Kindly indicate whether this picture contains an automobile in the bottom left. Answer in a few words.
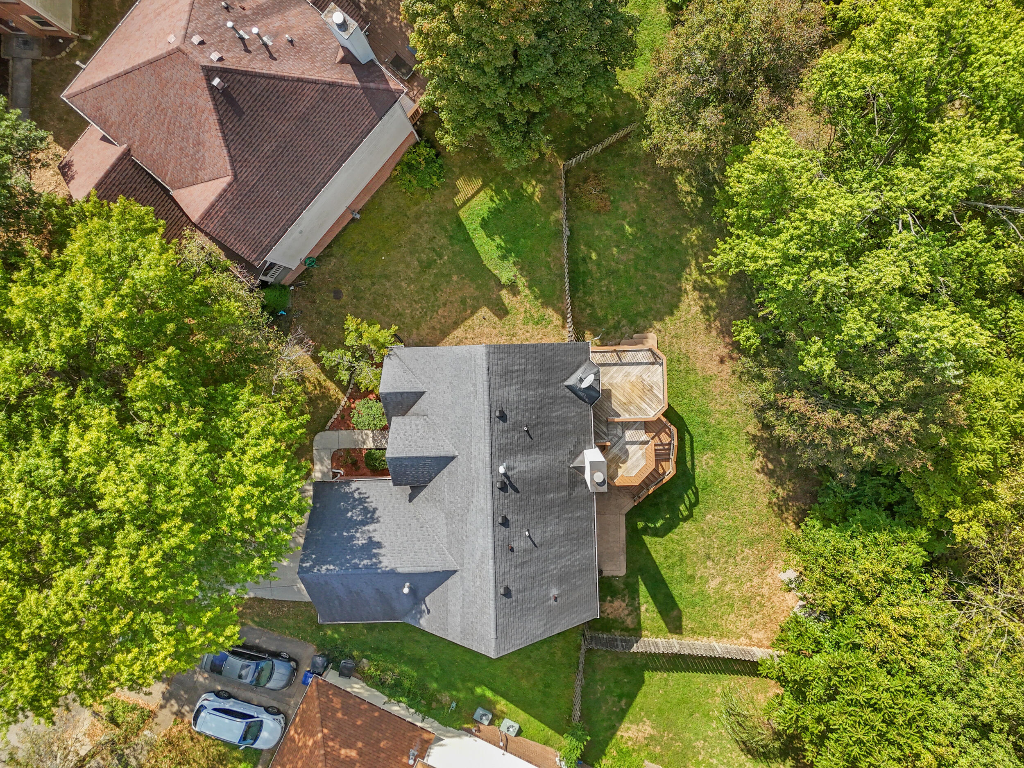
Yes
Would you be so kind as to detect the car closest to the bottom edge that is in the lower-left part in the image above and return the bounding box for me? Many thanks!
[192,689,287,749]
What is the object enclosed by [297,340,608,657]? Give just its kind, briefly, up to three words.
house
